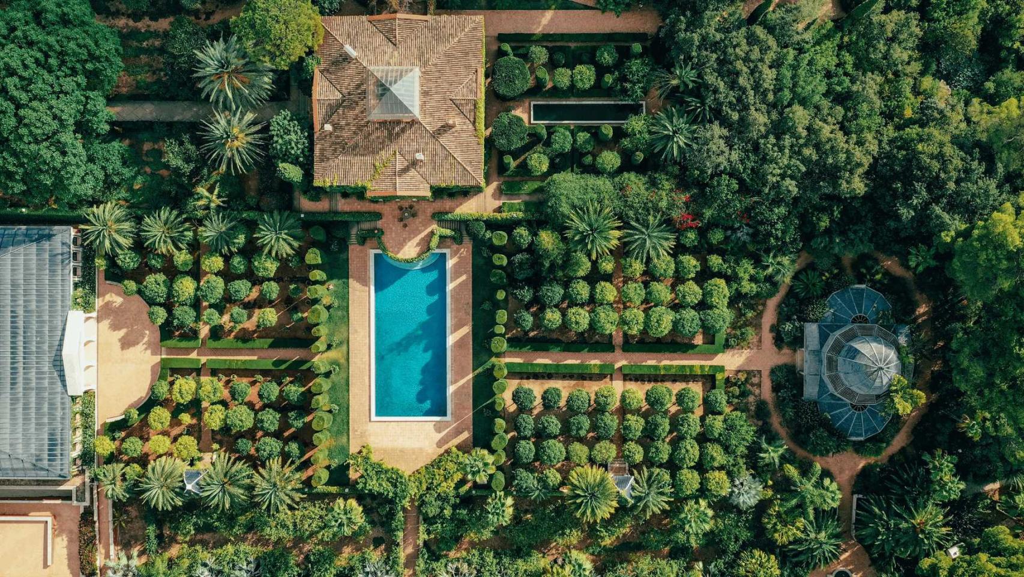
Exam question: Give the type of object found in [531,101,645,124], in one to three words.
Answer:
pond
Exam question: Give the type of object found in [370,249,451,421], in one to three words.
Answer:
swimming pool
